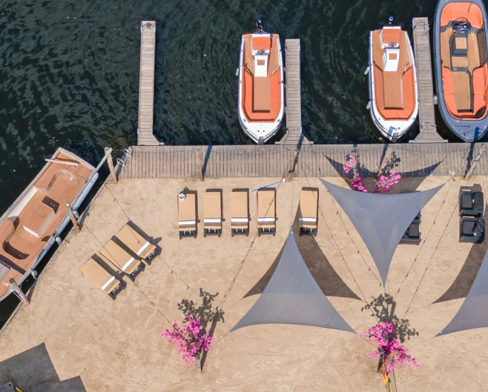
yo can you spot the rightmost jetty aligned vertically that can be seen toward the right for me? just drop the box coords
[408,16,448,142]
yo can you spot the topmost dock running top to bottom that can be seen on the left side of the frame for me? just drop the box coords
[135,20,164,142]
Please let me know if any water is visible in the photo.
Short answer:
Yes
